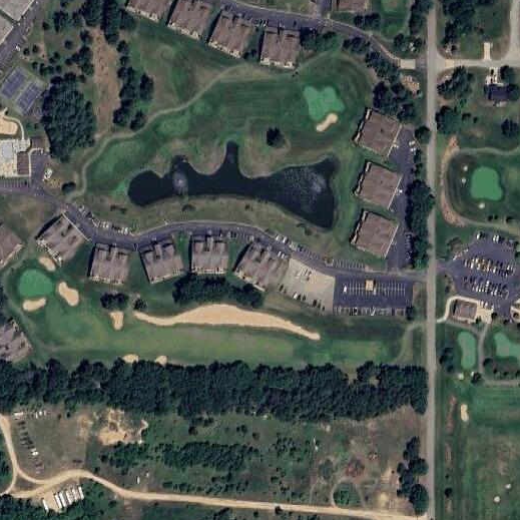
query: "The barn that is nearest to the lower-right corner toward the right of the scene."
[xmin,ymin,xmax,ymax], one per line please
[454,300,477,320]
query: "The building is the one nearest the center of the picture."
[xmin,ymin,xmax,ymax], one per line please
[237,239,288,290]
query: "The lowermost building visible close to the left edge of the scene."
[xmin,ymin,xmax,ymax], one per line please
[0,321,30,364]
